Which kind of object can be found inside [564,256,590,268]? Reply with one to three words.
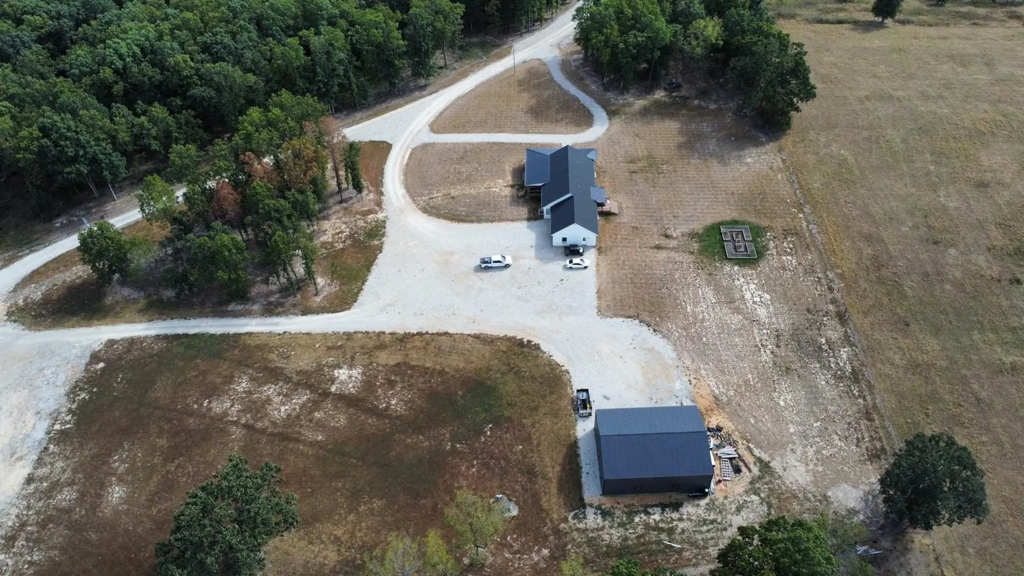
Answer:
vehicle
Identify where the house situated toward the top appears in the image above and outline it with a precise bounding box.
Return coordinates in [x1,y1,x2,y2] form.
[525,144,618,249]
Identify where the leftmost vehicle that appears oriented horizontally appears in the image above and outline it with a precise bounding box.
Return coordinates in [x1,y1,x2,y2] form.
[480,255,512,269]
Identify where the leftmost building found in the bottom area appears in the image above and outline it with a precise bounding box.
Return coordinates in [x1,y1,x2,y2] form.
[590,403,717,496]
